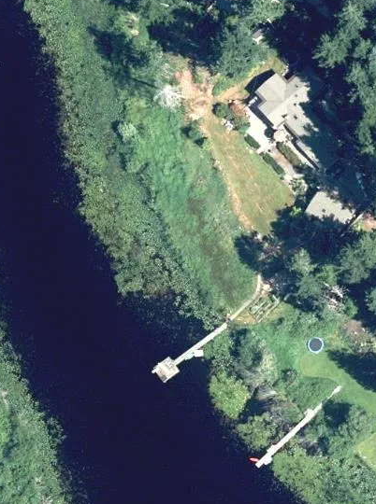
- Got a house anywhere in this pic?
Yes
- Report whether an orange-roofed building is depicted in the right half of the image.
No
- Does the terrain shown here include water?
Yes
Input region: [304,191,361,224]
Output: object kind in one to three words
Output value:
building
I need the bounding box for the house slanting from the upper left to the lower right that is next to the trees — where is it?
[255,73,337,166]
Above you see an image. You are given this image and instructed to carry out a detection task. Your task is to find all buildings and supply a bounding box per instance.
[304,191,361,224]
[255,73,337,166]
